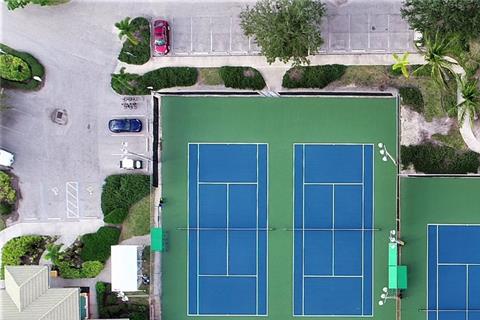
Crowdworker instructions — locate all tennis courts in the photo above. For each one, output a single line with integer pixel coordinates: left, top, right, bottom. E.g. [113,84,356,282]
[281,95,396,320]
[400,178,480,320]
[161,95,281,320]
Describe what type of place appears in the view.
sports ground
